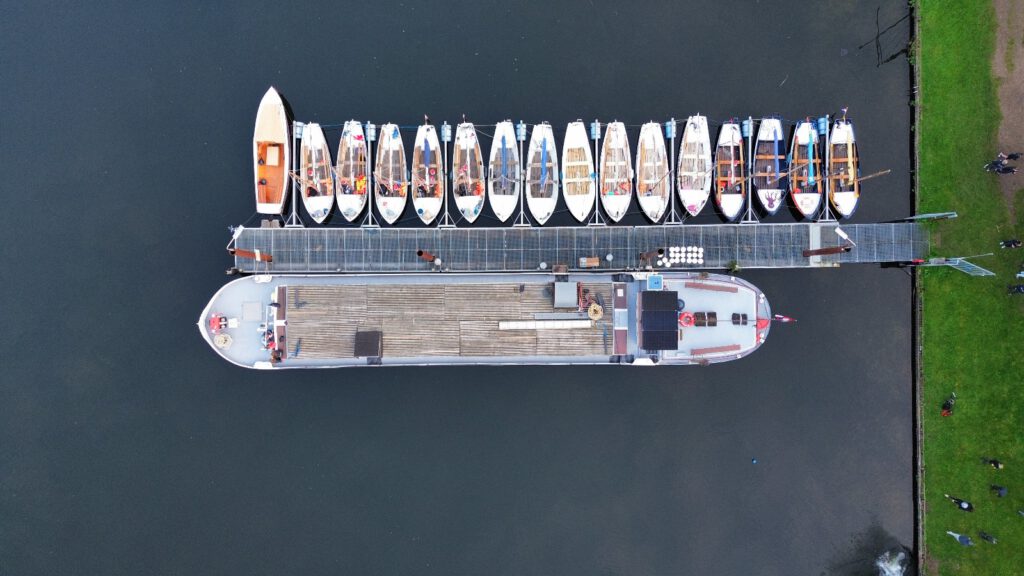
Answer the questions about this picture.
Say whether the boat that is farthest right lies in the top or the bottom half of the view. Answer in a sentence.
Seen from above, the boat that is farthest right lies in the top half of the view.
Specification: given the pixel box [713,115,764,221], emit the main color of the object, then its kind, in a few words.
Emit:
white boat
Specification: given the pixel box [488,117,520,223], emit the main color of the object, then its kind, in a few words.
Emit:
white boat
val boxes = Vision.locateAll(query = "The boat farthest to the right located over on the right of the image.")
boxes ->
[828,111,893,219]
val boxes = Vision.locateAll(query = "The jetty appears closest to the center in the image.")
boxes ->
[440,226,633,272]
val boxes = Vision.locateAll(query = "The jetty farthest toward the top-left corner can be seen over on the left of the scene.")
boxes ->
[234,227,440,273]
